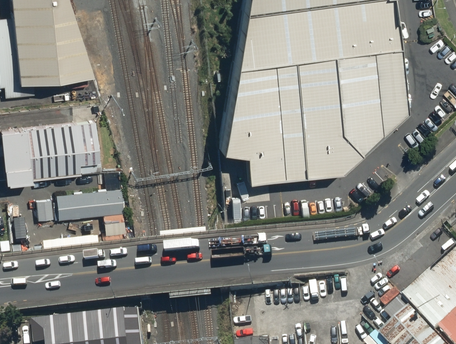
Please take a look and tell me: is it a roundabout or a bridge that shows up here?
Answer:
bridge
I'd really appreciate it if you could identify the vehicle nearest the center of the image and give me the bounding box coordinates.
[235,179,250,202]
